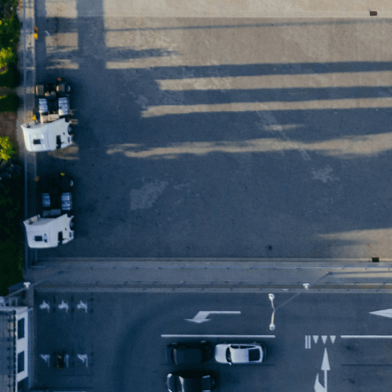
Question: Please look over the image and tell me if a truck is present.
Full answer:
Yes, I can see a truck in this picture.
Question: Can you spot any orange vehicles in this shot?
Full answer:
No, I find no orange vehicle anywhere in the image.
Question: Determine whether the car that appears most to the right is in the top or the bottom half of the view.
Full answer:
The car that appears most to the right sits in the bottom half of the picture.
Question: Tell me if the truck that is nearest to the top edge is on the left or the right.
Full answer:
It is on the left.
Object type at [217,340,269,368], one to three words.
car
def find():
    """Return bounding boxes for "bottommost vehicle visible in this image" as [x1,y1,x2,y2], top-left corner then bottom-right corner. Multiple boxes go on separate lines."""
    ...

[168,370,217,392]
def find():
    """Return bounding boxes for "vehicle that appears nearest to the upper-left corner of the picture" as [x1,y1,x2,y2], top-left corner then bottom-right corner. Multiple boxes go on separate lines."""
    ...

[21,80,77,152]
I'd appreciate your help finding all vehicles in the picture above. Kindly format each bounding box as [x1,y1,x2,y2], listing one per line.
[21,80,77,152]
[168,370,217,392]
[167,340,214,368]
[24,174,80,248]
[217,340,269,368]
